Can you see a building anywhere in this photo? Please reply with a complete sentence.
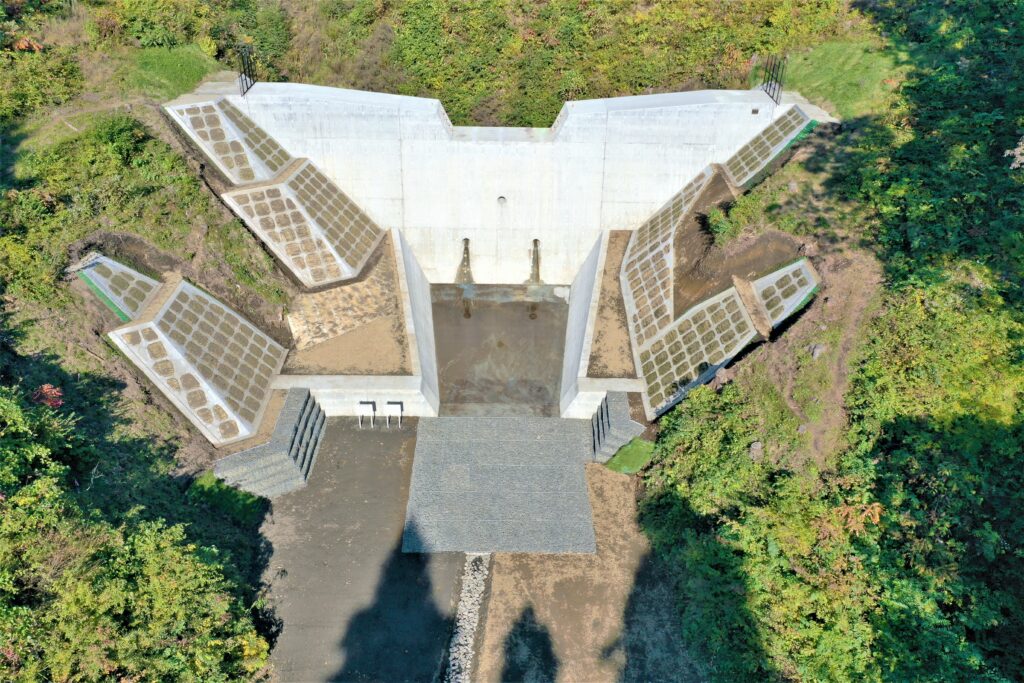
No, there isn't any building down there.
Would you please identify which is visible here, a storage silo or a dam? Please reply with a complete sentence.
The one in the frame is a dam.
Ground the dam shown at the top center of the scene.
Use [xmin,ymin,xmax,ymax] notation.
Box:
[214,84,798,285]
